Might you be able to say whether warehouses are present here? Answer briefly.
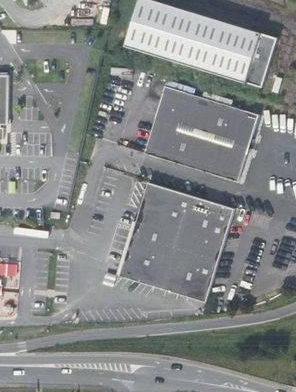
Yes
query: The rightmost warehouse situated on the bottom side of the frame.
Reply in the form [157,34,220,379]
[116,182,236,302]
